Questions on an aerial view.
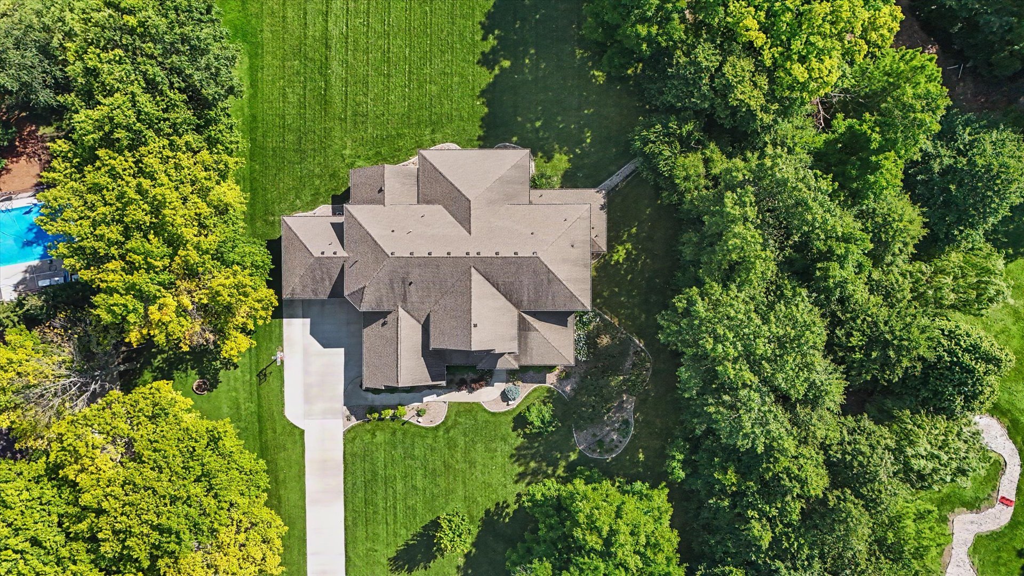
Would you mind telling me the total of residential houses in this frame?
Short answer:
1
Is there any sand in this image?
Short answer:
No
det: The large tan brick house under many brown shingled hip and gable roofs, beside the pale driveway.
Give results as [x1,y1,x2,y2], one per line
[280,148,609,390]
